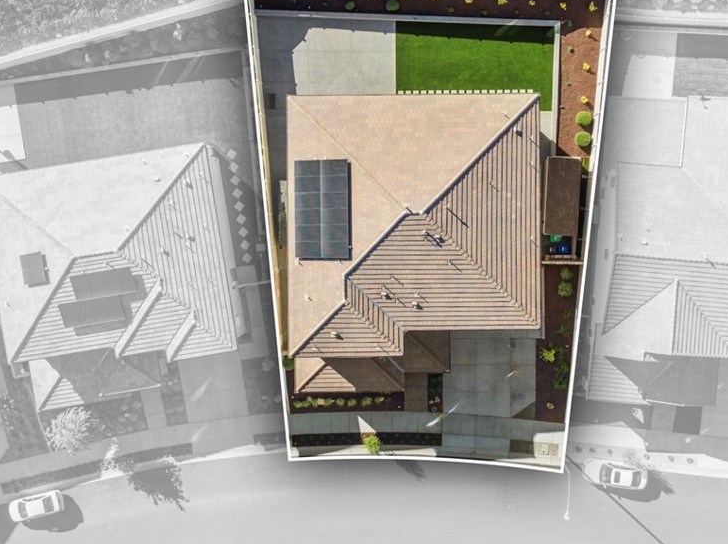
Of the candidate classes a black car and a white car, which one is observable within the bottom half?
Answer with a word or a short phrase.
white car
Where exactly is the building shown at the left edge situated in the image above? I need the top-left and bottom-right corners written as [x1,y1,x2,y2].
[0,142,250,413]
